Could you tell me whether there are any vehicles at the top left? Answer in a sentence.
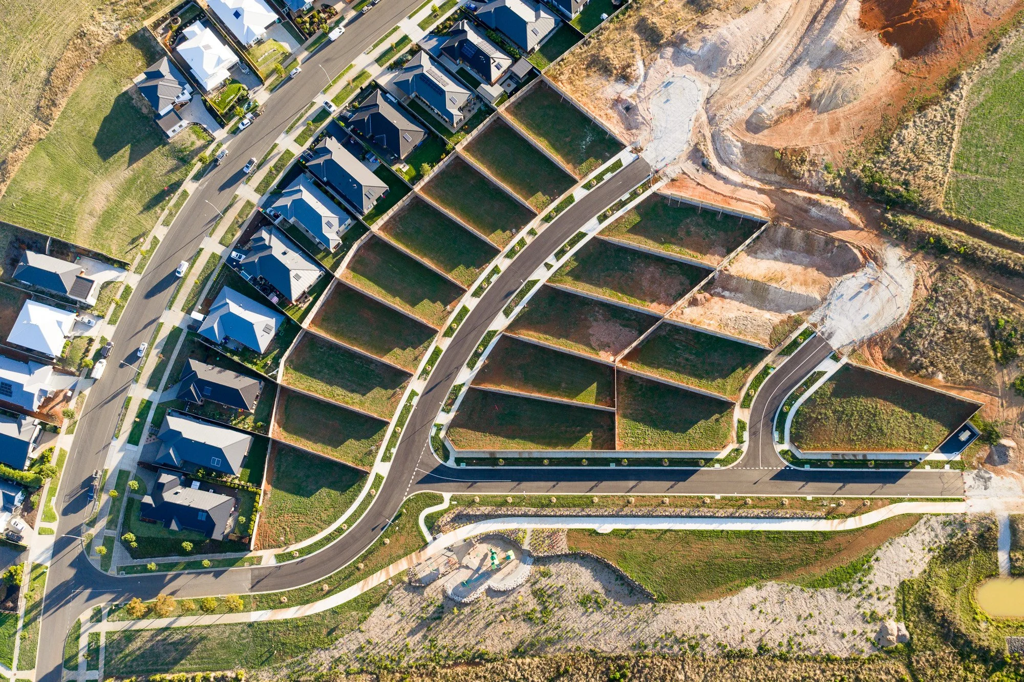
Yes, a vehicle appears at the top left.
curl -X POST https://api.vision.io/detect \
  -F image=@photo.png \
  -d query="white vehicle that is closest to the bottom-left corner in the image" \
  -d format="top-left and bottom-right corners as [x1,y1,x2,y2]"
[12,518,27,532]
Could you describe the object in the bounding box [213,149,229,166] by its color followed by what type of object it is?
gray vehicle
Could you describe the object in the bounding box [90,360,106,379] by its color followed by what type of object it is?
white vehicle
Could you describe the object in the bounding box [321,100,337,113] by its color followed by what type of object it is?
white vehicle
